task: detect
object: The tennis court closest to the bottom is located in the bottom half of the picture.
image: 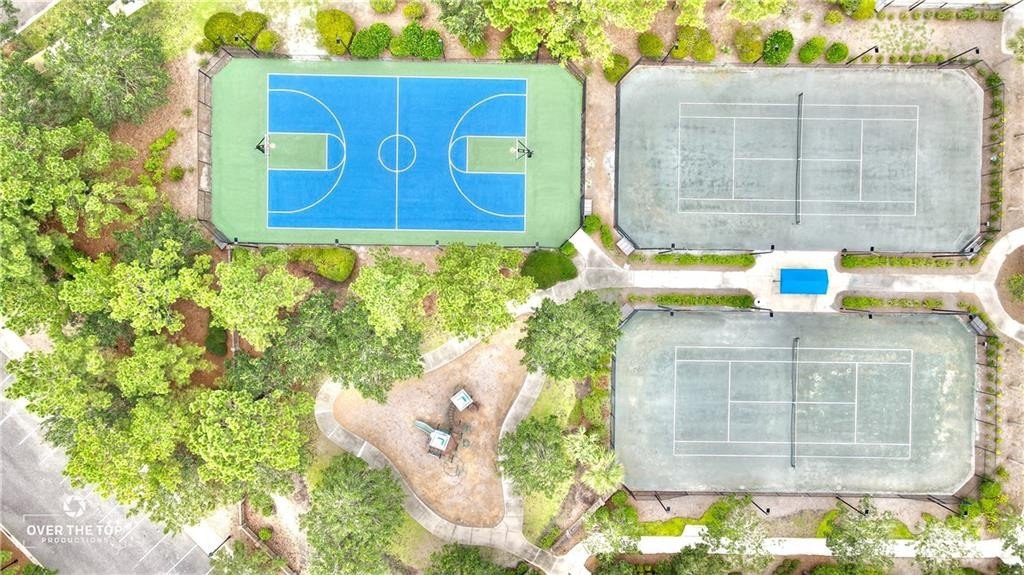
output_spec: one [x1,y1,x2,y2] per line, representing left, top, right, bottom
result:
[611,310,977,495]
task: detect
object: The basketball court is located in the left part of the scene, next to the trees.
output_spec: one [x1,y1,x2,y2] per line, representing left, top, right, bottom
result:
[211,57,583,247]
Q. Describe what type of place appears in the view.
sports ground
